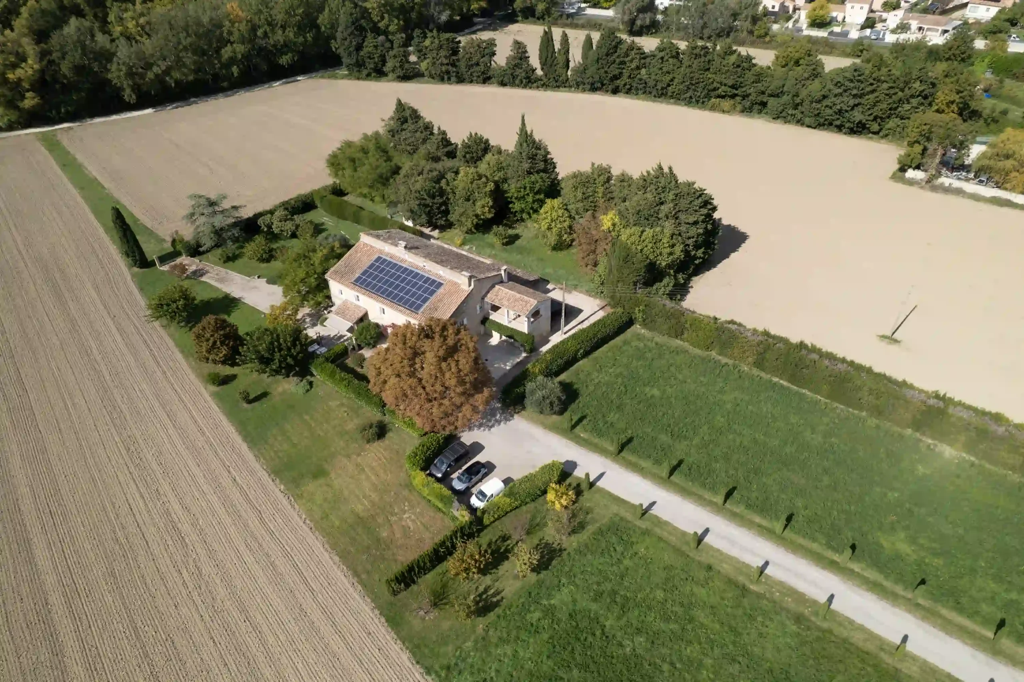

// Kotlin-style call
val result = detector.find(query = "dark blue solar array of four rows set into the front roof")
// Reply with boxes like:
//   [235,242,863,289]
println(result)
[351,252,448,315]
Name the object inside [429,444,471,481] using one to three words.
car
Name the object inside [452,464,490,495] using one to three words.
car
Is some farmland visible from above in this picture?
Yes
